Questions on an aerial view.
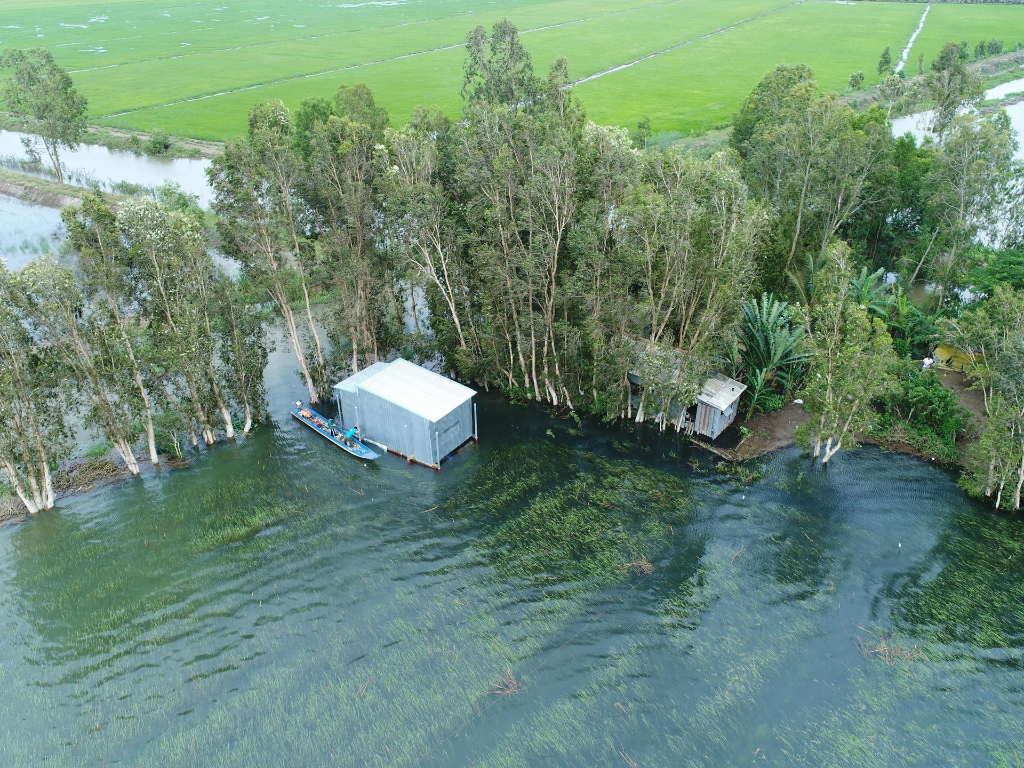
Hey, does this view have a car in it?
No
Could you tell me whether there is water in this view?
Yes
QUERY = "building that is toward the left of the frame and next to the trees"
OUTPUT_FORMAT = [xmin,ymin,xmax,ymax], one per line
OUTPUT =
[332,360,472,469]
